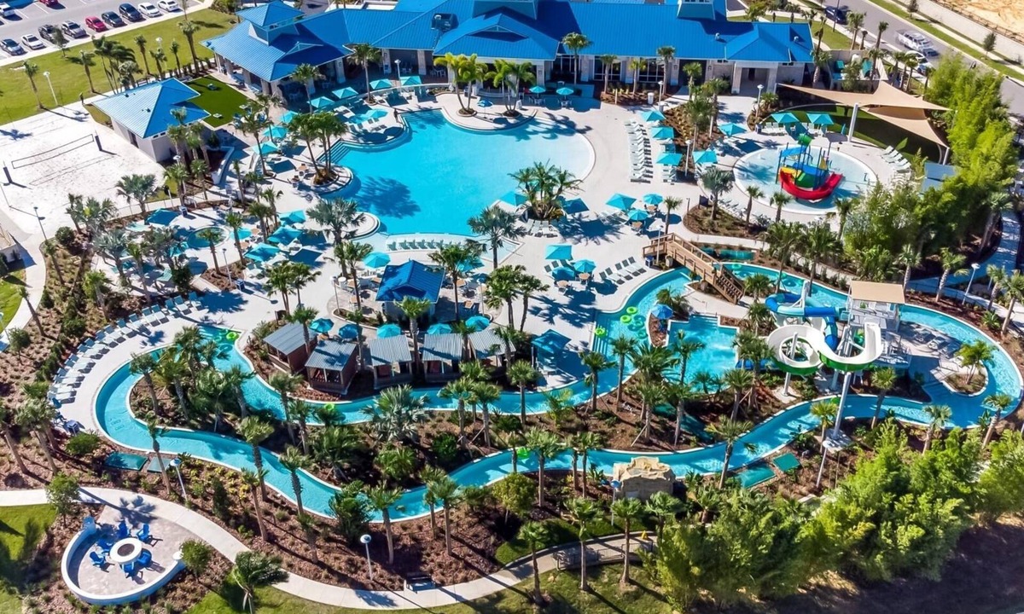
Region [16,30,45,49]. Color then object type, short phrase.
white car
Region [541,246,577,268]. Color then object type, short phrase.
blue umbrella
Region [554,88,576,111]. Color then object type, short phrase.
blue umbrella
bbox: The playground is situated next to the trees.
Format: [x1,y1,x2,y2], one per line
[775,128,844,199]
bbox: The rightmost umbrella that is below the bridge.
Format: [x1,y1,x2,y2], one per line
[645,307,677,340]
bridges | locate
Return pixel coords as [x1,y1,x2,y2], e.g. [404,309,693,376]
[642,232,746,304]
